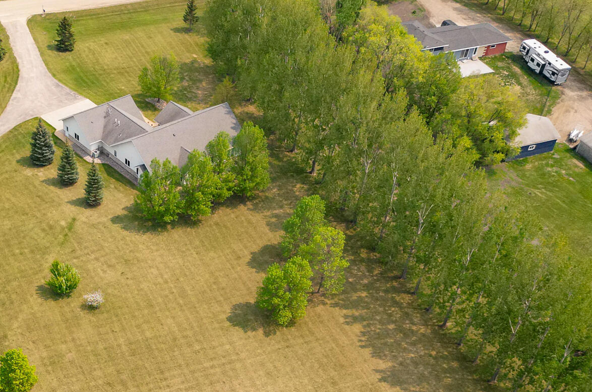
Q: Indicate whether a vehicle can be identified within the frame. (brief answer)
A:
Yes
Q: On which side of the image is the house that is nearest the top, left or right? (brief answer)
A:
right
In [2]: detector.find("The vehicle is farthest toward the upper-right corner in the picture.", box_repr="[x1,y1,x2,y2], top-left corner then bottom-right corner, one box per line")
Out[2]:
[518,41,571,89]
